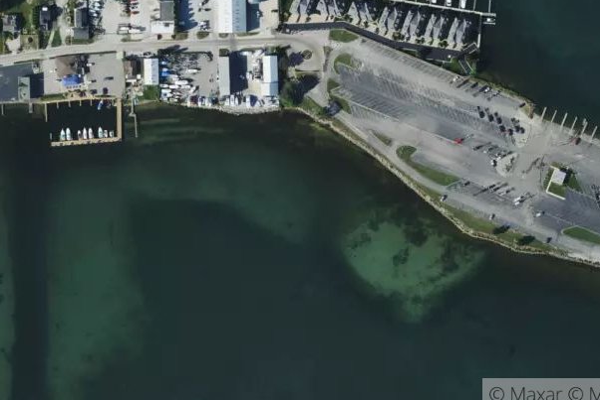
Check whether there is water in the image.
Yes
